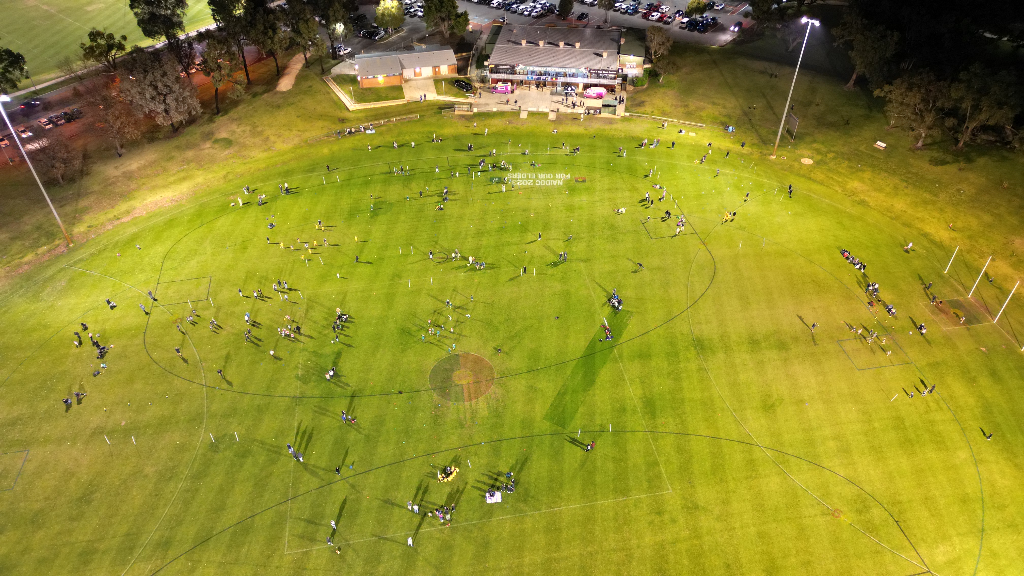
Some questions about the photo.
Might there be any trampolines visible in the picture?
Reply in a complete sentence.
No, the frame has no trampoline in it.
